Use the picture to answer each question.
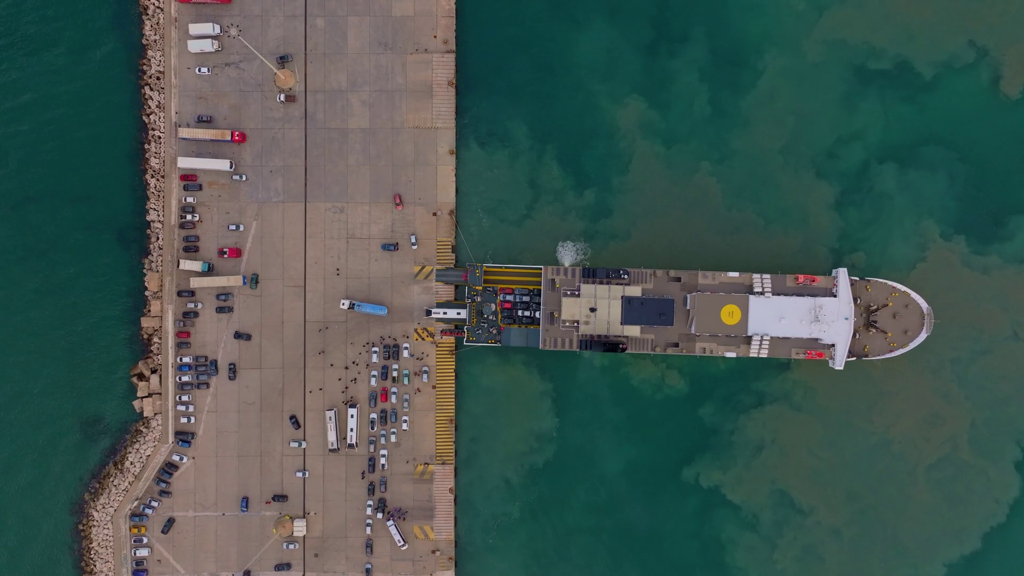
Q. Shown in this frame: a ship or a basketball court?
ship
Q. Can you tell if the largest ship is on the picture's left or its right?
right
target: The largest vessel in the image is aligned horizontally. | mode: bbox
[432,263,943,370]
